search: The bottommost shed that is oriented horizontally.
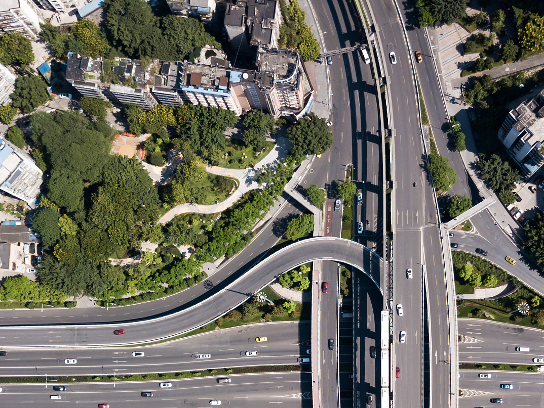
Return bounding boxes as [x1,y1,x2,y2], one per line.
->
[0,225,42,244]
